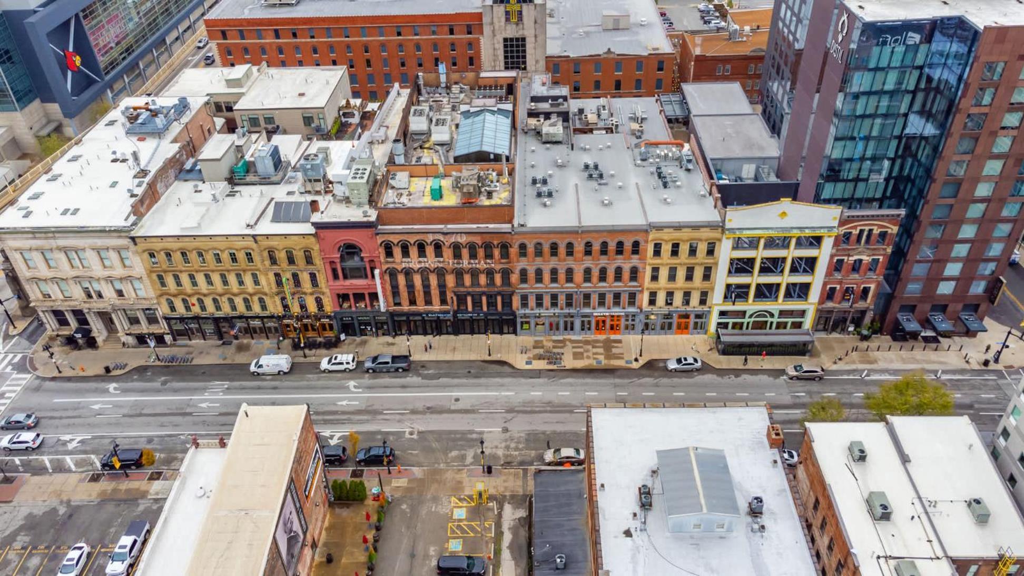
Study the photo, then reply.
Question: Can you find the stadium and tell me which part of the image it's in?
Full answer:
The stadium sits in the top left section of the image.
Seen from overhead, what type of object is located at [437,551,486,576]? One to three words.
car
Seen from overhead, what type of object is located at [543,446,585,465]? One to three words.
car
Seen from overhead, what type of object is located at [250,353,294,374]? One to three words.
vehicle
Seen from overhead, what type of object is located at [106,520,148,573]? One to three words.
truck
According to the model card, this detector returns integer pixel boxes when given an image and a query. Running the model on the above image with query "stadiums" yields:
[0,0,213,142]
